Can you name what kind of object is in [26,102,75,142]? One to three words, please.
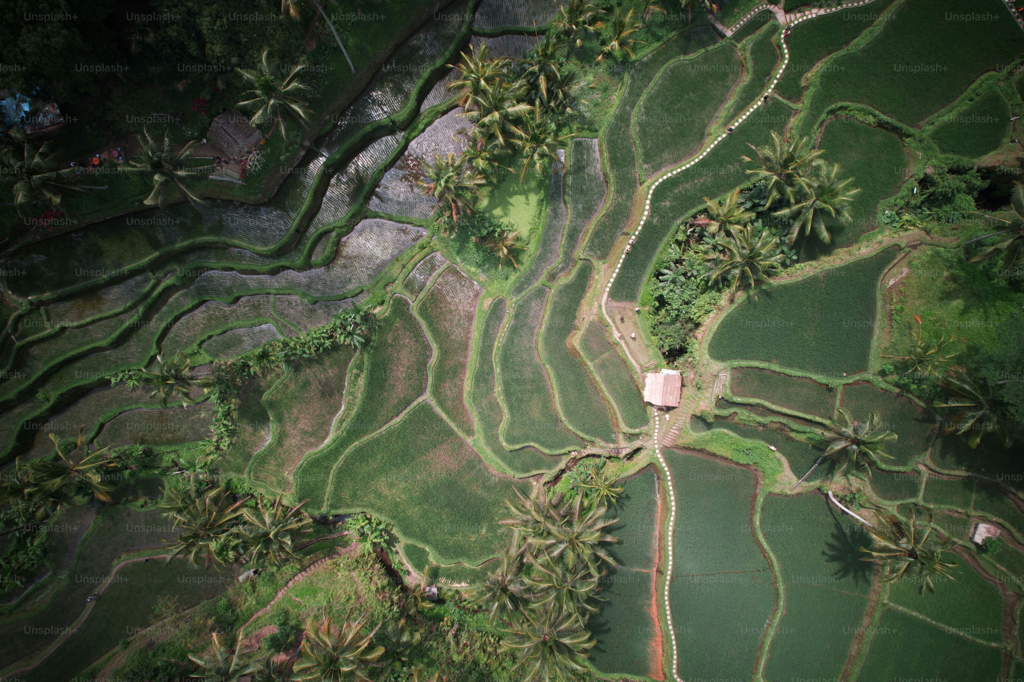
shed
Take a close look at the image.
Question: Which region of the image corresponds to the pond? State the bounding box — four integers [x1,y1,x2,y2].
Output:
[481,167,545,243]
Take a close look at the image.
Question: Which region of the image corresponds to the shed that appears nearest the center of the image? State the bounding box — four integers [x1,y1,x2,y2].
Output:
[642,371,682,409]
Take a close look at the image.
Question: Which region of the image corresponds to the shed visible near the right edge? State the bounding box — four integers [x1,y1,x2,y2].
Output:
[966,520,1001,546]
